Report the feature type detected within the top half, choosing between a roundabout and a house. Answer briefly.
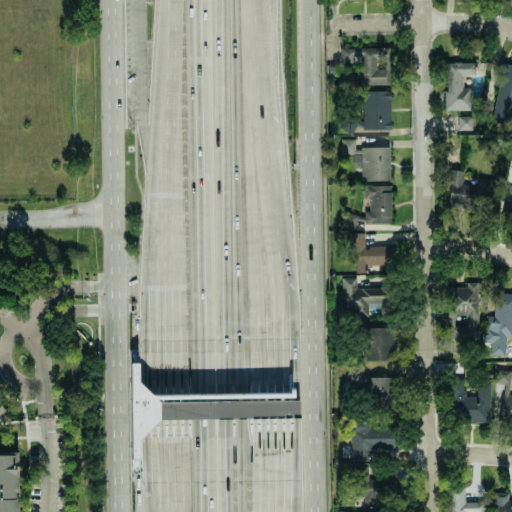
house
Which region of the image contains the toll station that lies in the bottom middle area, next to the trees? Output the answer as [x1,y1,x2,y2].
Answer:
[132,364,302,462]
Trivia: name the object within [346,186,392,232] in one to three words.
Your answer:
house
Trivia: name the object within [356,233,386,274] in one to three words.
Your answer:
house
